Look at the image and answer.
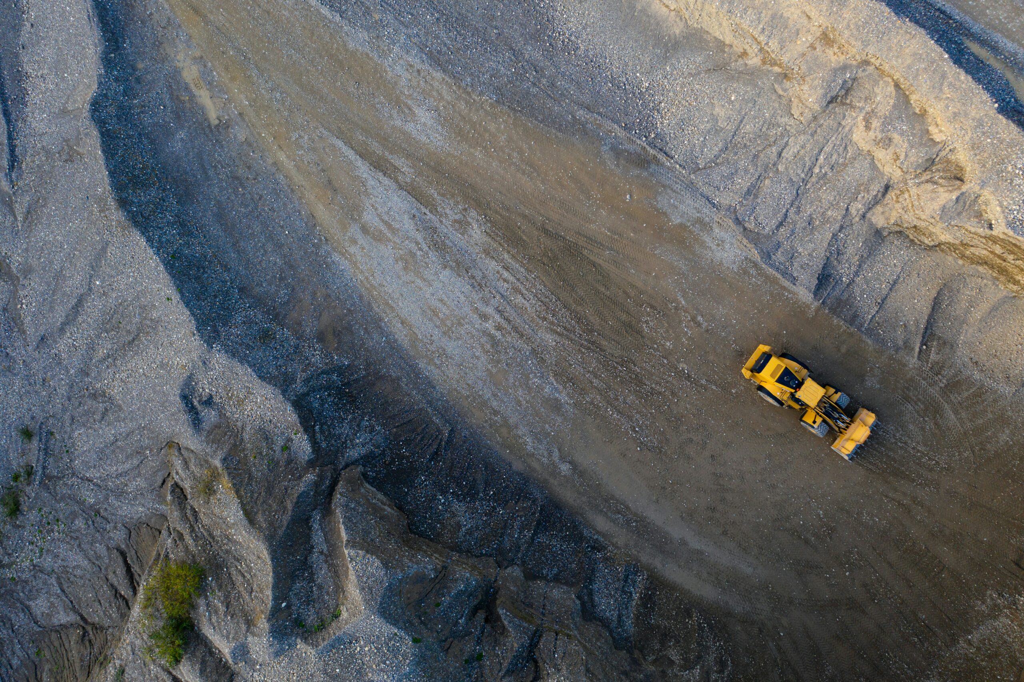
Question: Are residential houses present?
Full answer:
No, there appears to be no residential house in this shot.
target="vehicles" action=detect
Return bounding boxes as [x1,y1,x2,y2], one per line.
[738,345,880,462]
